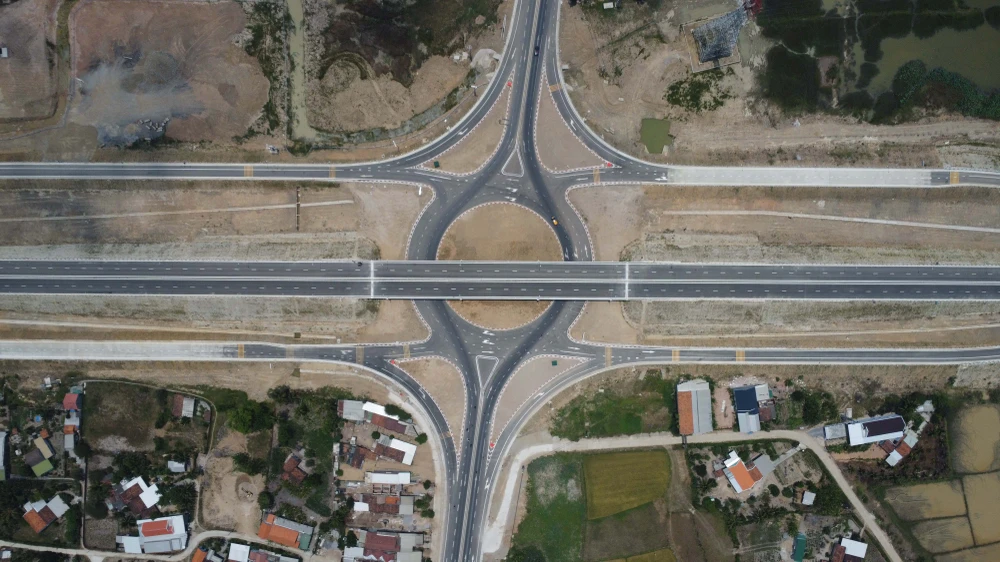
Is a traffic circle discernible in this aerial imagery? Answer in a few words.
Yes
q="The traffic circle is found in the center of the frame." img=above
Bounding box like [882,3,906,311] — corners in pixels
[384,164,605,388]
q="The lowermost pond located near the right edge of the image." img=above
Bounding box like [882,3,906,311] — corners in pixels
[871,25,1000,96]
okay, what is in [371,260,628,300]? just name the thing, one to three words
overpass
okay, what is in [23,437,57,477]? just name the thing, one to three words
house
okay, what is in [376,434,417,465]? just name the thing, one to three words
house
